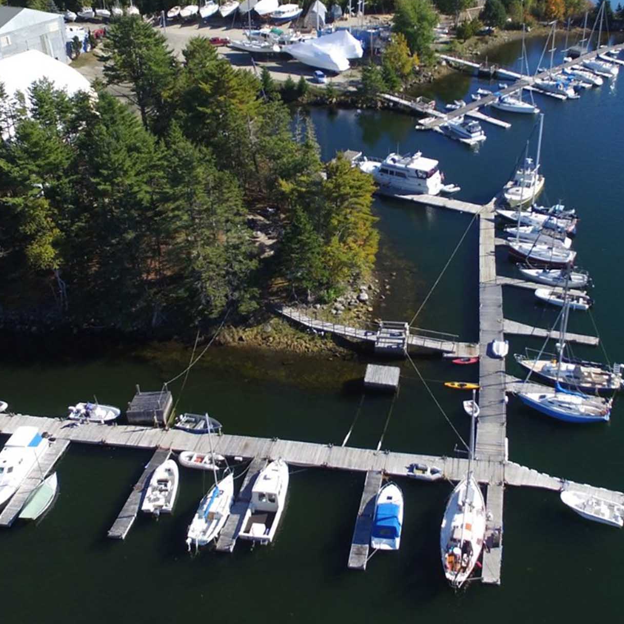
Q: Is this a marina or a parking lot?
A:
marina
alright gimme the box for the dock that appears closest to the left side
[0,440,70,529]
